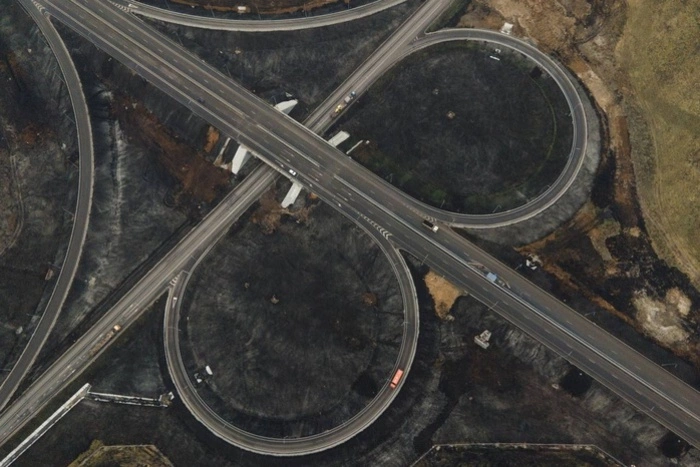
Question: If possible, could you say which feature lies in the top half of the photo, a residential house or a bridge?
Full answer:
There is a bridge in the top half of the photo.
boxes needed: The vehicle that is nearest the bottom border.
[390,369,404,389]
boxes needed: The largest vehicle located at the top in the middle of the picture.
[329,90,357,118]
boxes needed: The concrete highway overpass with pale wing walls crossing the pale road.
[232,99,350,208]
